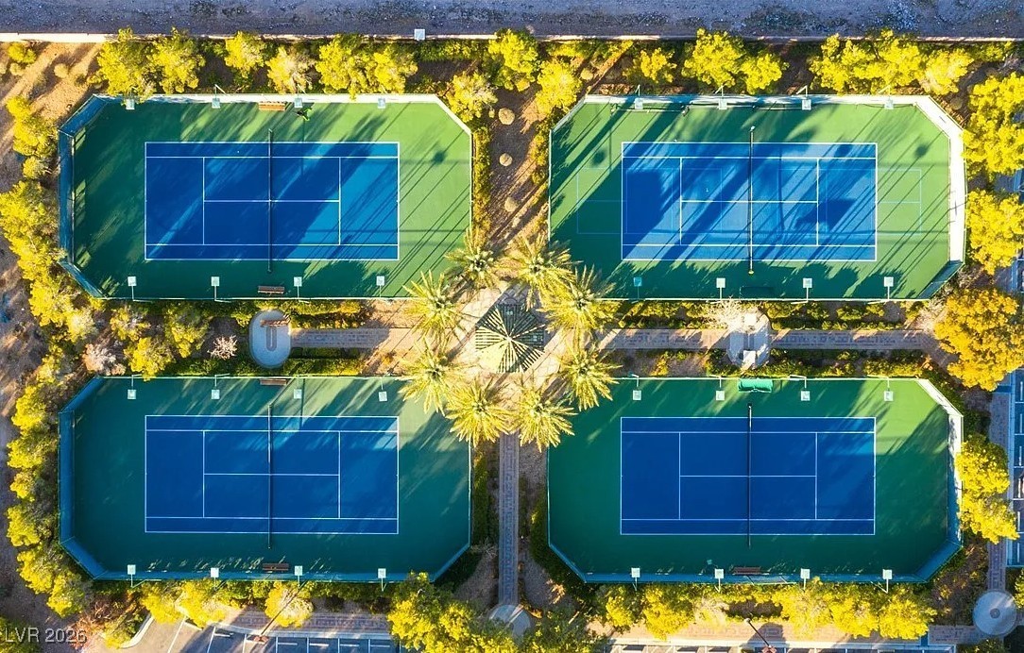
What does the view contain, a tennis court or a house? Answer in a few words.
tennis court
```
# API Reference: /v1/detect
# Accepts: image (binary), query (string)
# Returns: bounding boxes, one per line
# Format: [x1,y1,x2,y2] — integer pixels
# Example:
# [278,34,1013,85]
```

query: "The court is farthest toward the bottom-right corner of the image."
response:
[549,377,947,573]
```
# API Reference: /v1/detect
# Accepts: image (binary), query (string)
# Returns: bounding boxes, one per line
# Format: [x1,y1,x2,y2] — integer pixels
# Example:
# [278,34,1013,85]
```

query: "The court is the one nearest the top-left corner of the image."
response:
[75,102,470,297]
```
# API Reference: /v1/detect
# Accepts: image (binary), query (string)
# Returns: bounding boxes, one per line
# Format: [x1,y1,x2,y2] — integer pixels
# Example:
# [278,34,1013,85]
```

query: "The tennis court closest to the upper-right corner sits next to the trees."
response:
[551,103,948,299]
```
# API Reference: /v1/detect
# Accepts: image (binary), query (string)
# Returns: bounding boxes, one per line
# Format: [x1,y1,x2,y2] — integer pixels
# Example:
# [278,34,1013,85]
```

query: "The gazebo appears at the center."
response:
[473,300,547,374]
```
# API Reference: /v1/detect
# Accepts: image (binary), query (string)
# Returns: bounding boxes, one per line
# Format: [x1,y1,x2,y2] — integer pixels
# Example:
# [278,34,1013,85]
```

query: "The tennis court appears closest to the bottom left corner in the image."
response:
[75,376,471,574]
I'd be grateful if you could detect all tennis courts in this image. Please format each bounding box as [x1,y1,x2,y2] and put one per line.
[75,102,470,297]
[549,377,947,573]
[75,376,471,574]
[551,103,948,299]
